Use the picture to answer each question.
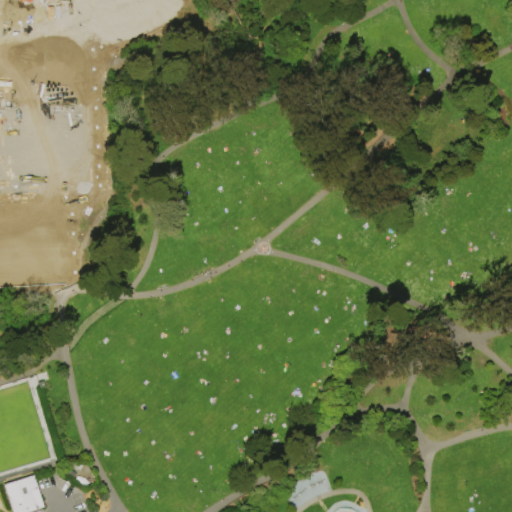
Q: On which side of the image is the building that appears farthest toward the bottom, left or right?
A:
left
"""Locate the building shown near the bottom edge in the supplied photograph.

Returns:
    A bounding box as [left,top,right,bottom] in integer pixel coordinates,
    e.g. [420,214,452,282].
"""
[5,475,46,512]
